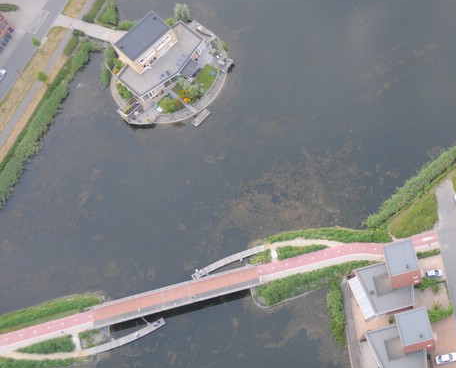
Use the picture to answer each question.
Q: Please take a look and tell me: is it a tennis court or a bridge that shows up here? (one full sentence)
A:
I can see a bridge in this picture.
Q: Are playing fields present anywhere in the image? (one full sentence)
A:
No, there is no playing field in the image.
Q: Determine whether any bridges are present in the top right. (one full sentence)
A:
No, no bridge is visible in the top right.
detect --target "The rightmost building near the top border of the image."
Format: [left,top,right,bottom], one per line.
[114,11,207,103]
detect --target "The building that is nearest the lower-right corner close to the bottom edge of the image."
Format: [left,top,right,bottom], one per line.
[365,307,435,368]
